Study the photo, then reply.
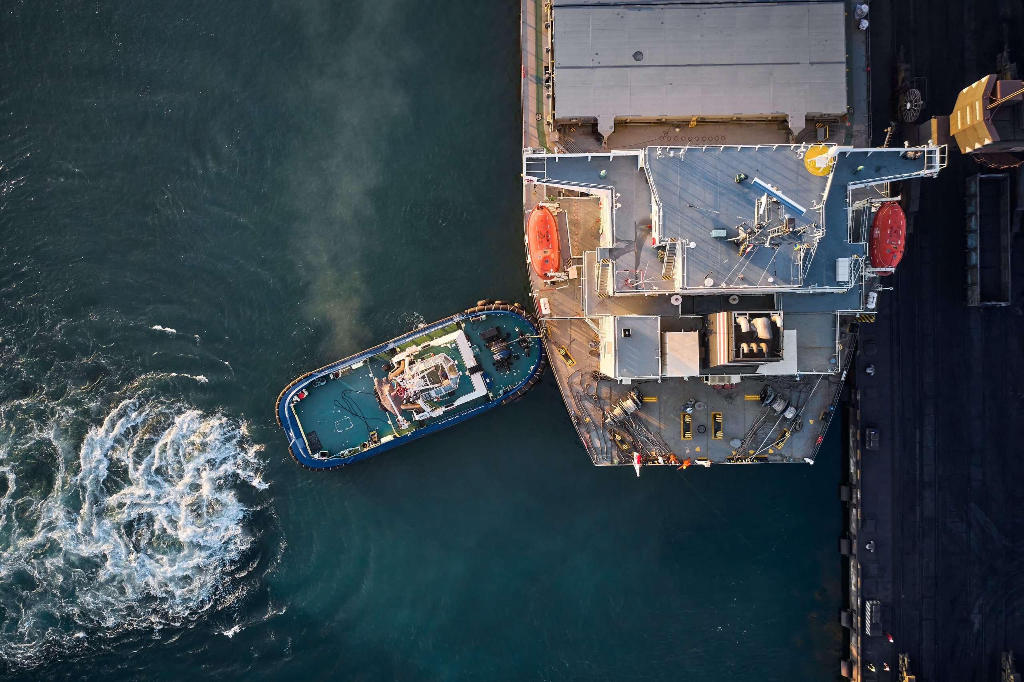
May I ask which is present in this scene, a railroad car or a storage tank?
railroad car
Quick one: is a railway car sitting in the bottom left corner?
No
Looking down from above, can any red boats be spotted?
Yes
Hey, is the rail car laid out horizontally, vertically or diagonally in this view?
vertically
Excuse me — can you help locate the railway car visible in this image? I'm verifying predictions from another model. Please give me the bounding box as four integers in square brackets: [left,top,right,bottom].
[963,170,1011,314]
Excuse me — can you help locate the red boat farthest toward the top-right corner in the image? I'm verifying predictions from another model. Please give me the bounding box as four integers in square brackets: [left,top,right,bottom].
[869,201,906,277]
